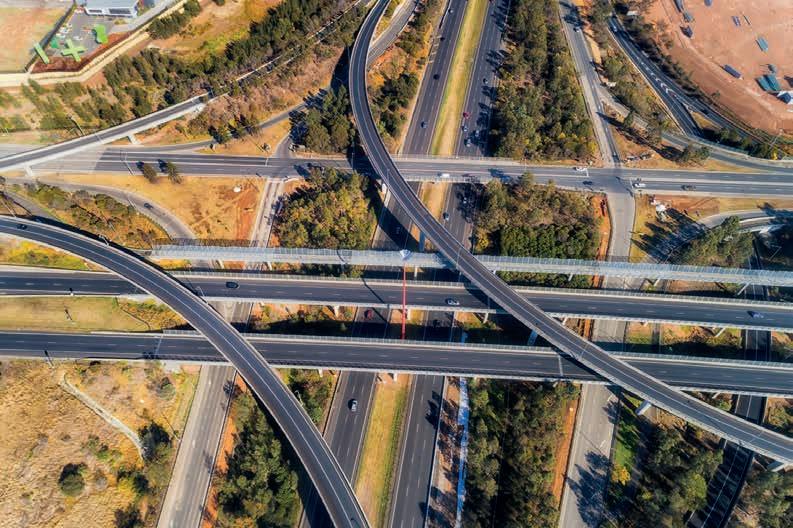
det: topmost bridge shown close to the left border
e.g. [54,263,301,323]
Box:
[0,88,223,170]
